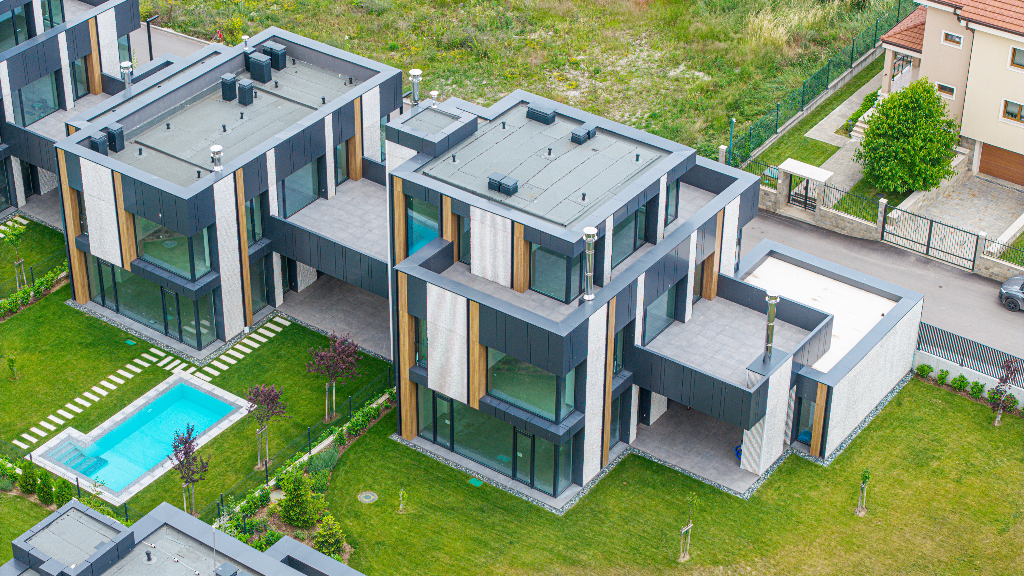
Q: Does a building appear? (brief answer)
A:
Yes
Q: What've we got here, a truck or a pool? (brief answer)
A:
pool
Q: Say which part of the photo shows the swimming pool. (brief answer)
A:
bottom left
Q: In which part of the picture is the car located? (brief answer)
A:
right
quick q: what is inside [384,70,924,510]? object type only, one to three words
house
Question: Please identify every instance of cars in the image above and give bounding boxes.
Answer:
[993,272,1024,311]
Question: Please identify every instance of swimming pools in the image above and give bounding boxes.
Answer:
[25,369,254,506]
